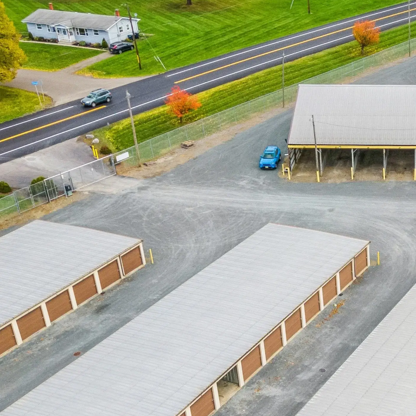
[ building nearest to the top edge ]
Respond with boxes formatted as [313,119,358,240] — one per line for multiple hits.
[22,0,144,43]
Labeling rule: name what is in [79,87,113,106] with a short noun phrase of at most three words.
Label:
car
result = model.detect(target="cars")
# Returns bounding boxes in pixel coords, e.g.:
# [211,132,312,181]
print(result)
[259,145,282,168]
[79,87,113,106]
[108,40,134,53]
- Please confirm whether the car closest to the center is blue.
Yes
